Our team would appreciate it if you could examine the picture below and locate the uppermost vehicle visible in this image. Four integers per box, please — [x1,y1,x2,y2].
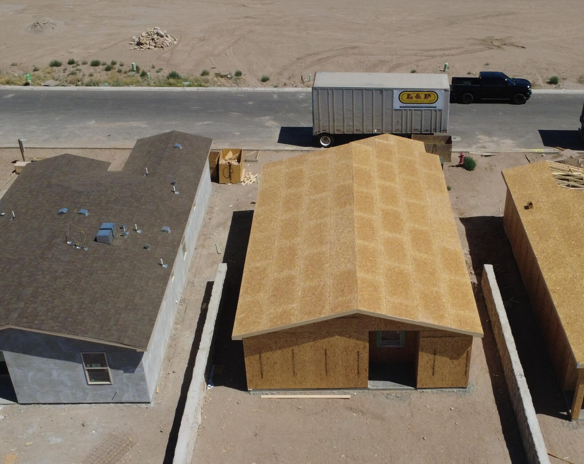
[451,71,537,105]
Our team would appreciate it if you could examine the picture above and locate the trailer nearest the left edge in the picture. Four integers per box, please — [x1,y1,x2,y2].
[312,74,451,145]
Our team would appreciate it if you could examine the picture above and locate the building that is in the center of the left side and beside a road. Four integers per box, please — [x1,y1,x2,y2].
[0,131,213,410]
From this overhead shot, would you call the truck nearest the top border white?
No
